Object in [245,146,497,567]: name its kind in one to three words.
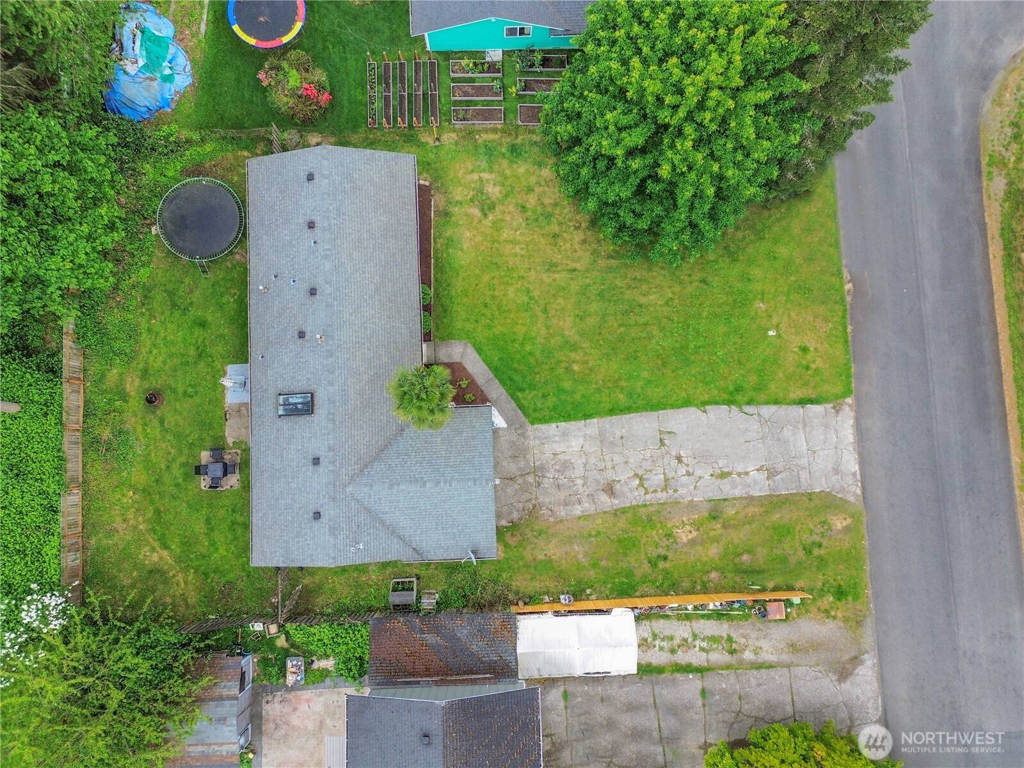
house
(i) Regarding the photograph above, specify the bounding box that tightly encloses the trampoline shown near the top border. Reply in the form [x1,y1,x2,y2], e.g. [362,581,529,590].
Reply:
[227,0,308,55]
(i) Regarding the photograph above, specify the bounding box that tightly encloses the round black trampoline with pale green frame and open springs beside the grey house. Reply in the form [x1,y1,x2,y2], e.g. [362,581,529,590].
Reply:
[157,176,245,264]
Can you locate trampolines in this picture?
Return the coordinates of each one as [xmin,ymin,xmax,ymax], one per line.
[157,176,245,264]
[227,0,308,55]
